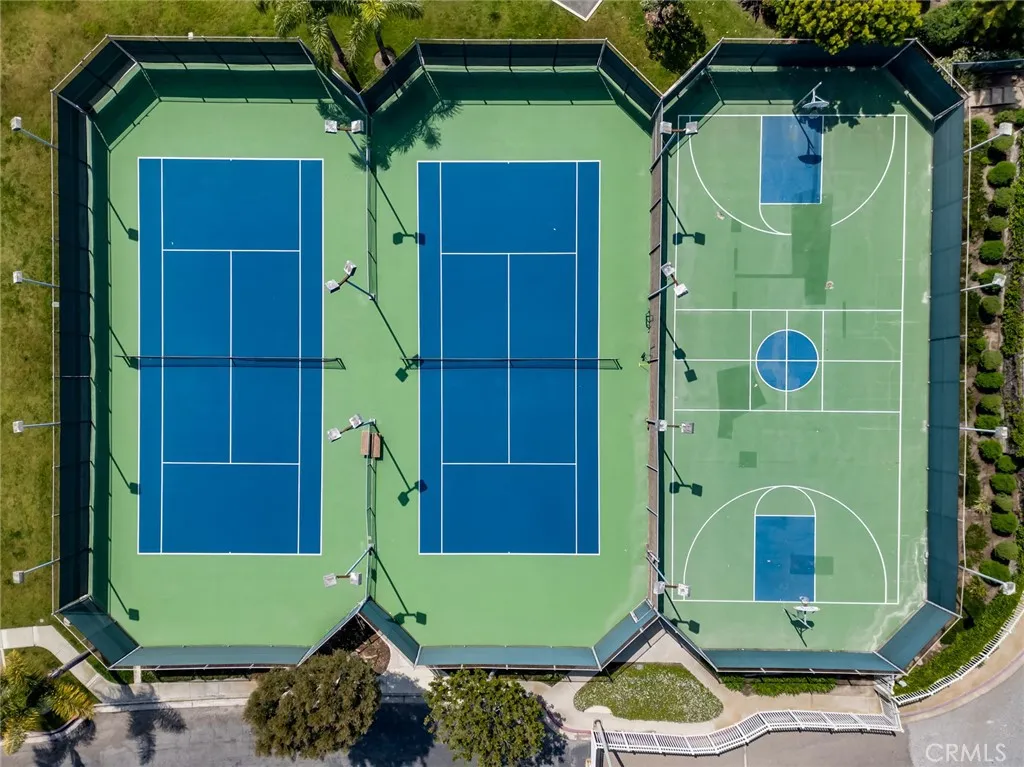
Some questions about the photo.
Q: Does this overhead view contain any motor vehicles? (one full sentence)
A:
No, I can see no motor vehicle in this picture.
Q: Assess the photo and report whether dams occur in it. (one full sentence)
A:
No, I can see no dam in this picture.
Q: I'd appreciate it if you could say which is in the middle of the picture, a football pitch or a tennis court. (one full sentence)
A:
The feature located in the middle of the picture is a tennis court.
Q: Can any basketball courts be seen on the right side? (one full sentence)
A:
Yes, a basketball court appears on the right side.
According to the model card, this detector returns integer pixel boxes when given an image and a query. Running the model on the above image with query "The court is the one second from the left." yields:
[371,61,650,645]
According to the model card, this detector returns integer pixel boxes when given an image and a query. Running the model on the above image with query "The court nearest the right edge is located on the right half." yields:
[647,58,935,654]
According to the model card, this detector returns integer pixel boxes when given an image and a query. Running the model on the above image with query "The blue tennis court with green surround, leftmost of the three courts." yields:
[84,59,371,650]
